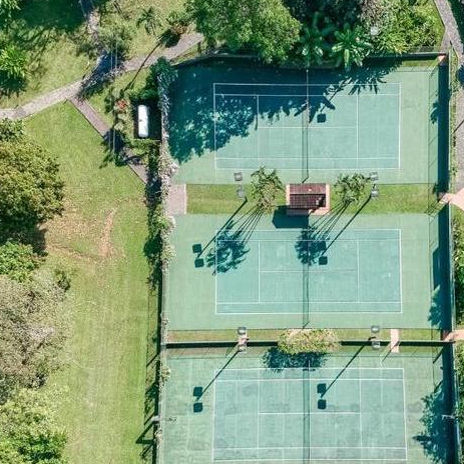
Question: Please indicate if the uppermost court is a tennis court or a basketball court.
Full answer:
It looks like the uppermost court is a tennis court.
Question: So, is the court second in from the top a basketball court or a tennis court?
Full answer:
The court second in from the top appears to be a tennis court.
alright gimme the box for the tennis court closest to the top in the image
[168,56,442,184]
